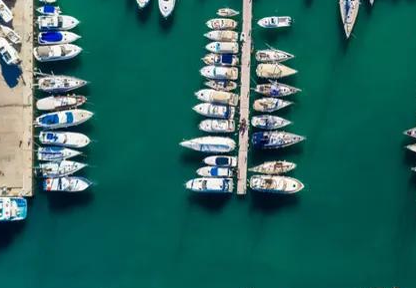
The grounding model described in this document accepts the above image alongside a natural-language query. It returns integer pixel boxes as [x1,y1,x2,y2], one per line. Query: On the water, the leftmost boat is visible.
[0,197,30,221]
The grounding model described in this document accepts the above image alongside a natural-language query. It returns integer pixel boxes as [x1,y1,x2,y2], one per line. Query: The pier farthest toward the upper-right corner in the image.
[234,0,253,193]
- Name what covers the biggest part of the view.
water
